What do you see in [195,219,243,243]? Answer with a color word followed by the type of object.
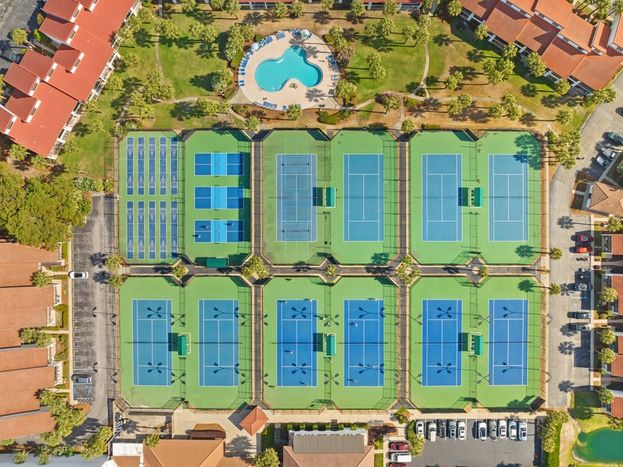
blue sports court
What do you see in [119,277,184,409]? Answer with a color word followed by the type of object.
green tennis court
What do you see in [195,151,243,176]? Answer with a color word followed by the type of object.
blue sports court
